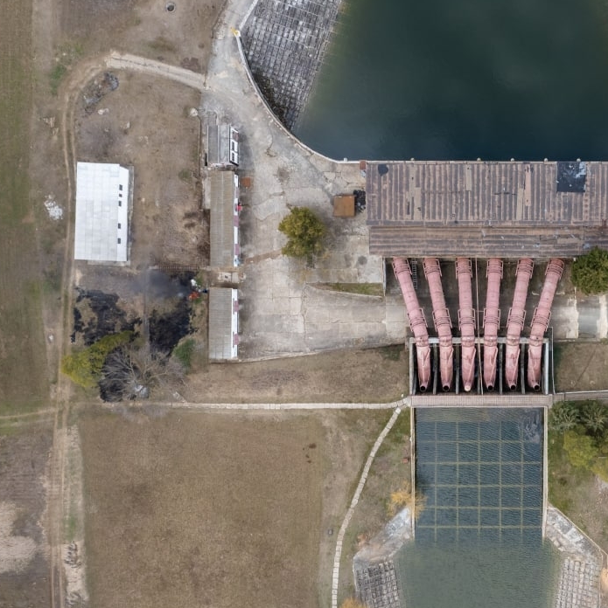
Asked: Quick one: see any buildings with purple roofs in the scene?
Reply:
No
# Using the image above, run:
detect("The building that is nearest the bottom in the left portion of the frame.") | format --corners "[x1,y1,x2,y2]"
[209,288,239,360]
